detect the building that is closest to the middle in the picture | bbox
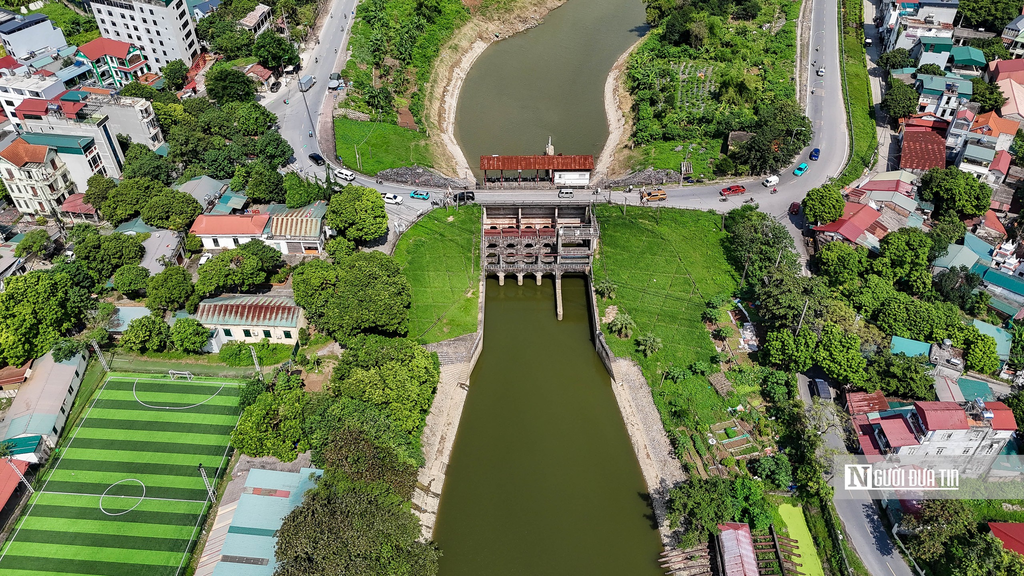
[479,155,606,187]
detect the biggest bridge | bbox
[469,182,603,208]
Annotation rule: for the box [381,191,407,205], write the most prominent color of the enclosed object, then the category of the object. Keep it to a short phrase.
white vehicle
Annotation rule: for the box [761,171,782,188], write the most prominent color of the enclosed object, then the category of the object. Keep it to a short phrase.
white vehicle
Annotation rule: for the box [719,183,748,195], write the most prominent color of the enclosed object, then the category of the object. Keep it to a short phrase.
red vehicle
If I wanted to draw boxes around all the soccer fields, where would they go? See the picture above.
[0,358,284,576]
